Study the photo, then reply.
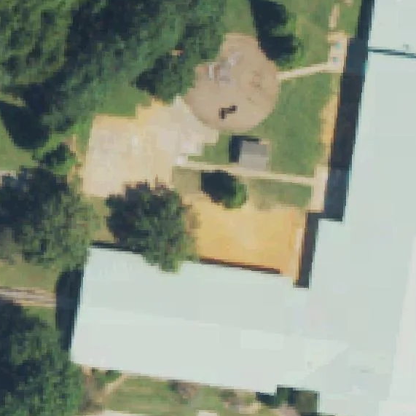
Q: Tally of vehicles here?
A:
none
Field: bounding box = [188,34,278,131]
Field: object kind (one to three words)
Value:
playground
